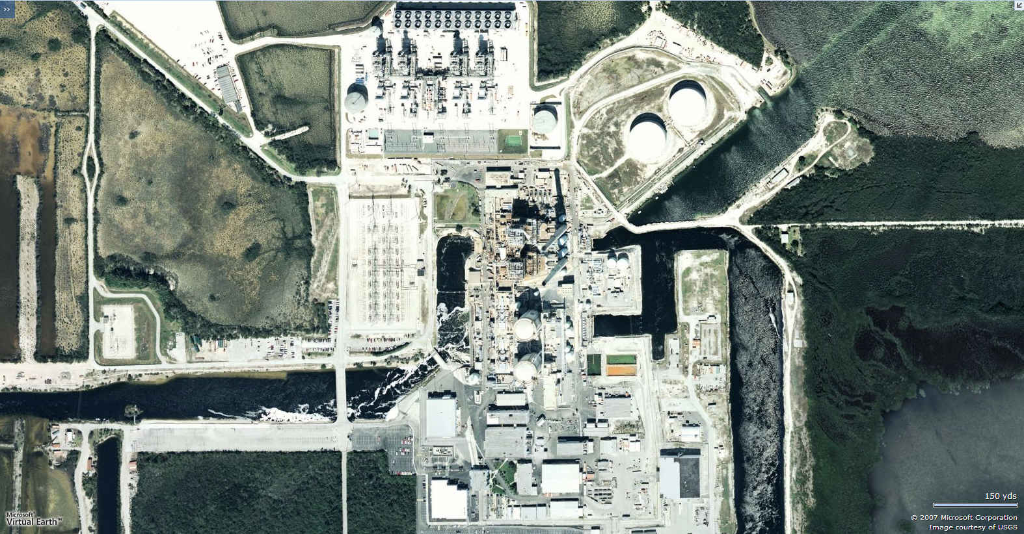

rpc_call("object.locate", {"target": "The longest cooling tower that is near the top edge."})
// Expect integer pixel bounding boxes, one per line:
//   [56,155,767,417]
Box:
[393,8,521,29]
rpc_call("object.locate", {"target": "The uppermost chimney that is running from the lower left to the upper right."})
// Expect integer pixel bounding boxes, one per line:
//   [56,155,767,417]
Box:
[542,220,572,251]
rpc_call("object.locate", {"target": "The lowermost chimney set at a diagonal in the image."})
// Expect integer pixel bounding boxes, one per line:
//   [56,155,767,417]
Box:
[542,254,572,286]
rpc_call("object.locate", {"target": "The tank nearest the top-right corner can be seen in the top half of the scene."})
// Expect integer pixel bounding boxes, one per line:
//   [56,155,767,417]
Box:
[669,85,709,125]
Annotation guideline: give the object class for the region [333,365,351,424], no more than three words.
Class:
bridge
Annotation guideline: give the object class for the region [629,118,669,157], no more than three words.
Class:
storage tank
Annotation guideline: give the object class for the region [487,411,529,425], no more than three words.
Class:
building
